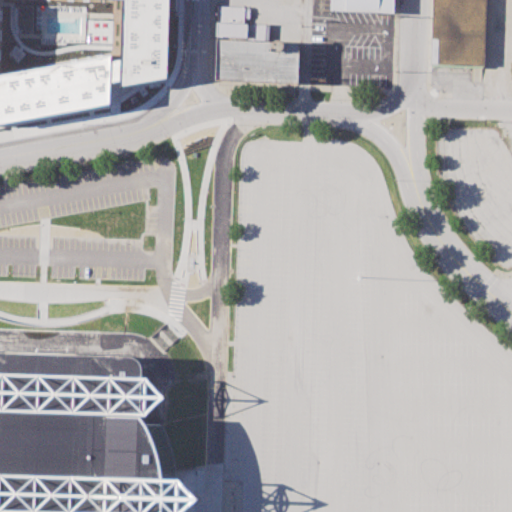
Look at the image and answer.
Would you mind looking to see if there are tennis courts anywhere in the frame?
No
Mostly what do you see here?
paved ground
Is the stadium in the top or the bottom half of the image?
bottom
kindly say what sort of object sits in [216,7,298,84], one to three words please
building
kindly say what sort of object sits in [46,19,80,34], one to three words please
swimming pool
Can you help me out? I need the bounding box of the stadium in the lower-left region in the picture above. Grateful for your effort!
[0,352,197,512]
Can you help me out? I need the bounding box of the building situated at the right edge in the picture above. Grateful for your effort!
[432,0,486,68]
